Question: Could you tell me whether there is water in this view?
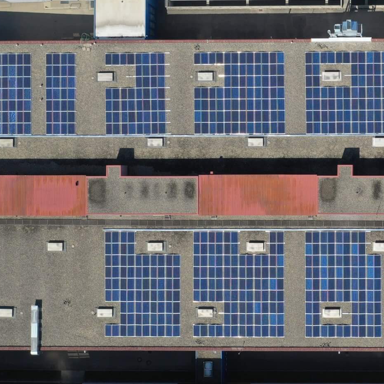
No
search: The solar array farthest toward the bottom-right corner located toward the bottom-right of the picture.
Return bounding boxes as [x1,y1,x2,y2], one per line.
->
[305,231,382,338]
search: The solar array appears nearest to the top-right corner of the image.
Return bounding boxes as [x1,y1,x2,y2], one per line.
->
[306,51,384,134]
